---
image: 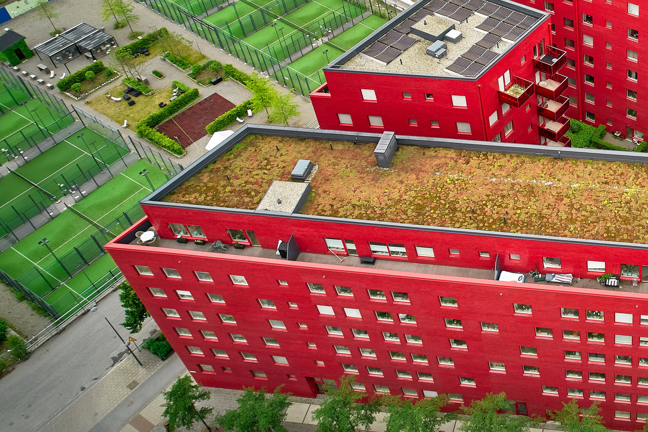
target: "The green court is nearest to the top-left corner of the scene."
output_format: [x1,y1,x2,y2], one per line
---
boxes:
[0,66,32,116]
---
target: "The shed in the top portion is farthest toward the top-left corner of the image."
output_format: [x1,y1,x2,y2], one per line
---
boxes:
[0,31,31,67]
